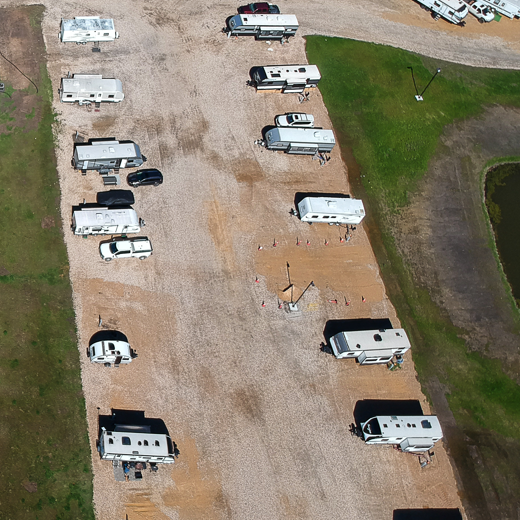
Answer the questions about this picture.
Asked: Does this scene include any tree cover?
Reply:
No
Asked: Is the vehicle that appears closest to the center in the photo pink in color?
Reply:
No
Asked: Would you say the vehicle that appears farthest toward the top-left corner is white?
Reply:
Yes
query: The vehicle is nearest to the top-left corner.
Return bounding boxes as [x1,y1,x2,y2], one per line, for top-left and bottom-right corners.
[58,18,117,49]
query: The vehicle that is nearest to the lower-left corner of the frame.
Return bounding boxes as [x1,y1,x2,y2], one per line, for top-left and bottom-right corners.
[97,418,178,472]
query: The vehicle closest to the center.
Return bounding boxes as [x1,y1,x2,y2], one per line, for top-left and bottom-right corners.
[282,196,365,228]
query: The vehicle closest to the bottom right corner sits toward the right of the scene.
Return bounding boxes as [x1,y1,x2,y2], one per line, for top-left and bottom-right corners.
[344,416,443,453]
